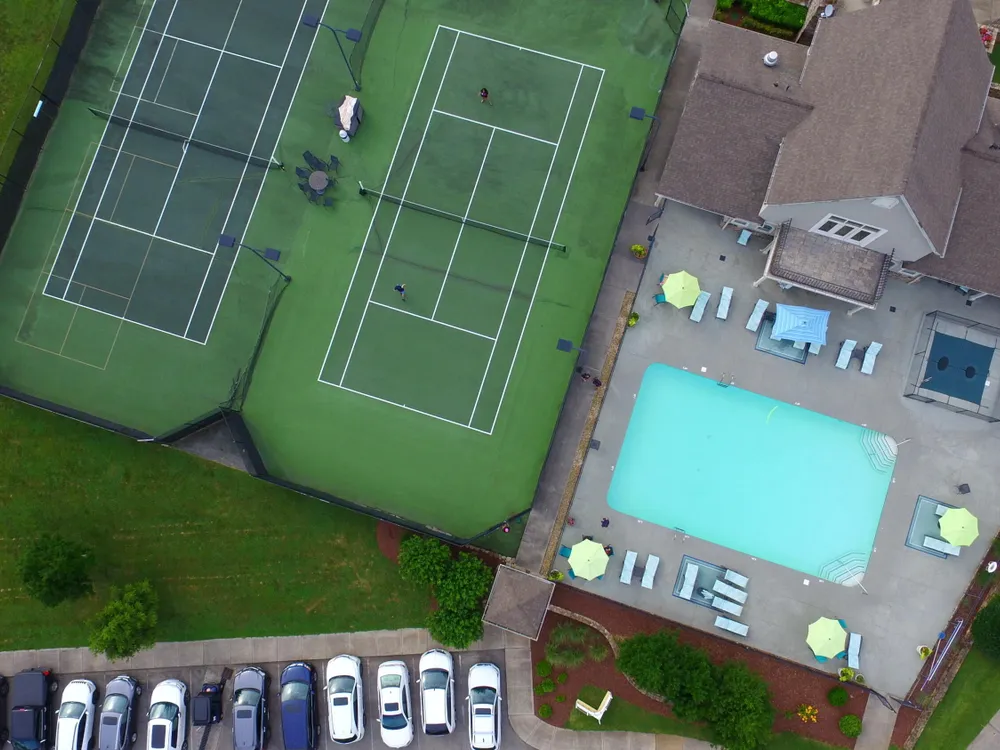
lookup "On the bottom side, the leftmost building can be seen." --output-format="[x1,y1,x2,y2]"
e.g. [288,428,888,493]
[481,562,555,641]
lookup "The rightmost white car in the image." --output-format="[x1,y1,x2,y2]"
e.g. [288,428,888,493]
[464,661,505,750]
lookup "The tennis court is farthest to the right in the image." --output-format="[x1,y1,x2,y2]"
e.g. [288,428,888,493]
[240,0,689,537]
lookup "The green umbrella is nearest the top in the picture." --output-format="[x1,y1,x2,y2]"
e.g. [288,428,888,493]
[661,271,701,311]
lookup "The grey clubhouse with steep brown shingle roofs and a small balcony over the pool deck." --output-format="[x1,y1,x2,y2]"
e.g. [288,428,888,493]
[653,0,1000,316]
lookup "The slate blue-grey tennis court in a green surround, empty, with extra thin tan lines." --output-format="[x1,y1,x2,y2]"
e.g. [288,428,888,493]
[0,0,384,434]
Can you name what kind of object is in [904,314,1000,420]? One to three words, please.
swimming pool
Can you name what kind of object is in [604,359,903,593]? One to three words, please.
swimming pool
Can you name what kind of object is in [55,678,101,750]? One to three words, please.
car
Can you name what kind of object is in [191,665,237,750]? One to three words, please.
trailer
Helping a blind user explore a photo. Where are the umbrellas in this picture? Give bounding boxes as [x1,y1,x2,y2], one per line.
[931,505,977,548]
[566,538,608,581]
[806,616,847,658]
[771,305,828,346]
[661,271,701,311]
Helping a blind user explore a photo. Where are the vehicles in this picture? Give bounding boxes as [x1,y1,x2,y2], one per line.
[277,661,321,750]
[375,659,414,748]
[323,653,368,745]
[229,665,272,750]
[99,675,144,750]
[55,678,101,750]
[416,647,457,739]
[147,678,192,750]
[464,661,505,750]
[10,660,60,750]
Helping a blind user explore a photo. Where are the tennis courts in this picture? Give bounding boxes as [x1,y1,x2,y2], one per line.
[240,0,689,537]
[0,0,384,434]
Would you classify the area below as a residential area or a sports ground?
sports ground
